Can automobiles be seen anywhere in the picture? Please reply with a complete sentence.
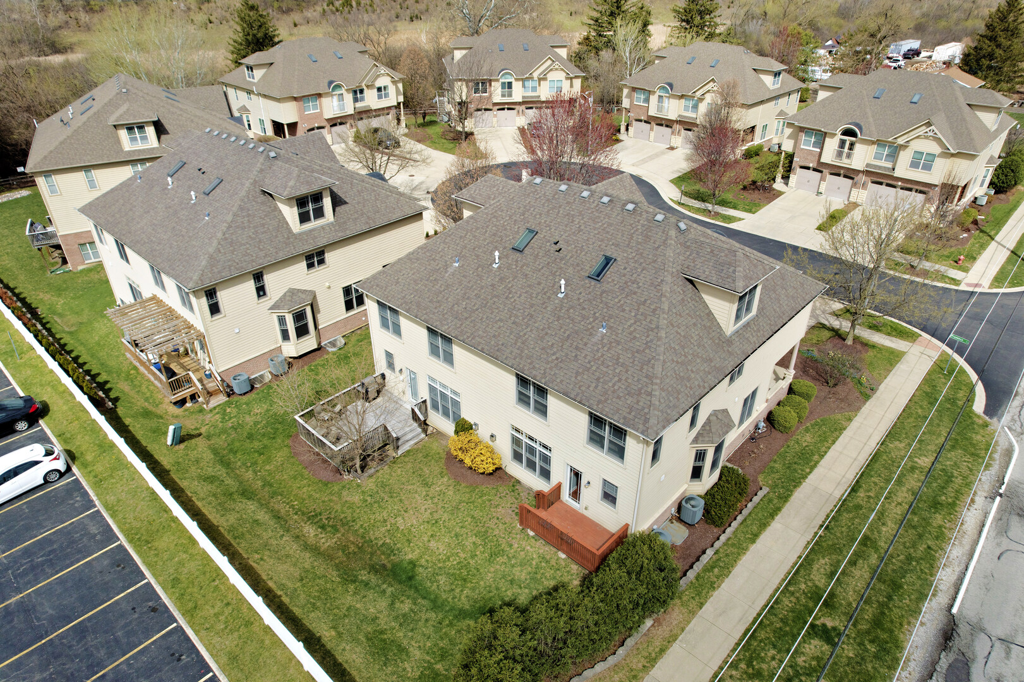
Yes, the image includes an automobile.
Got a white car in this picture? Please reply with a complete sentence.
Yes, this view includes a white car.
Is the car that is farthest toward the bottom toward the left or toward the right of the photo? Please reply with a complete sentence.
The car that is farthest toward the bottom is on the left side of the image.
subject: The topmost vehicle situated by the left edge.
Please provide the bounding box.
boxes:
[0,397,33,433]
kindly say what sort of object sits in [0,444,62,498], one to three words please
car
